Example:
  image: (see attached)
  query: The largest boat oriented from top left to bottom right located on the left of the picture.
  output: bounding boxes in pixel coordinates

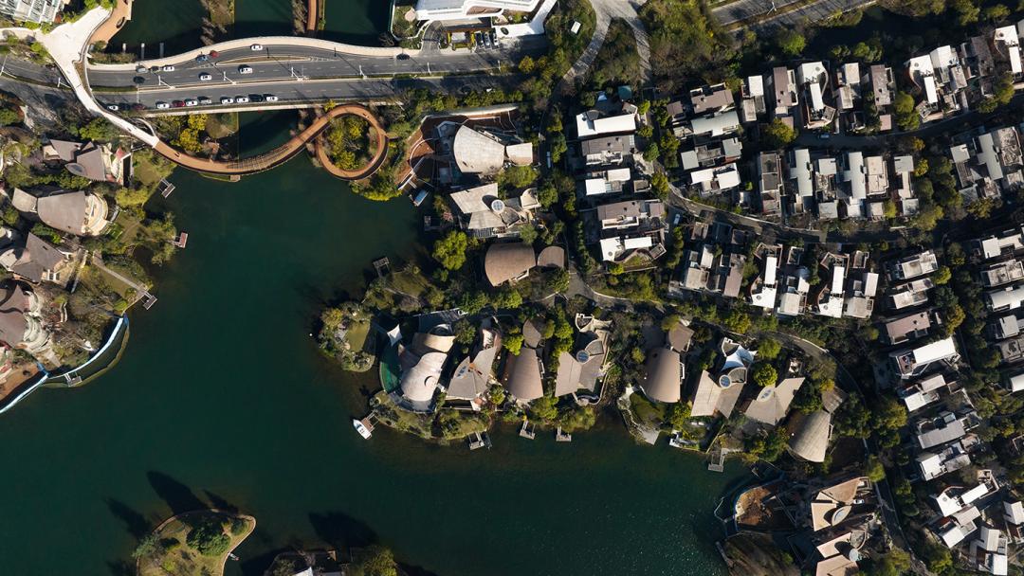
[354,420,370,440]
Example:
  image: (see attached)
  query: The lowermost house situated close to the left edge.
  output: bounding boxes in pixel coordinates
[0,284,72,374]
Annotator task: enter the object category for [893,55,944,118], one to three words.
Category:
house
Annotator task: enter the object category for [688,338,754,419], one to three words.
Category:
house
